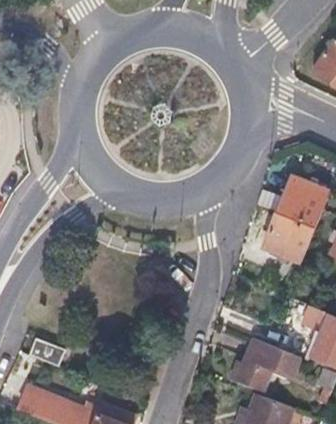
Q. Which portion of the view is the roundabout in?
top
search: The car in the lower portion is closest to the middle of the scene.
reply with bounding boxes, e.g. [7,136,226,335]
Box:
[176,253,196,272]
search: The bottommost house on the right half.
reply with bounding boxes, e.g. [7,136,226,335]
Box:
[238,391,298,424]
